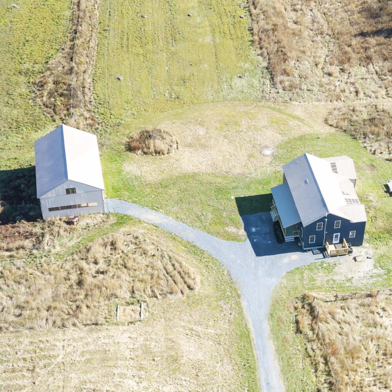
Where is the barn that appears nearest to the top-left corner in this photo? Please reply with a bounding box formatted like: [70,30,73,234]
[34,123,105,218]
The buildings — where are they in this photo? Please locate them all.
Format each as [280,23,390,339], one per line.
[34,123,105,218]
[269,151,368,249]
